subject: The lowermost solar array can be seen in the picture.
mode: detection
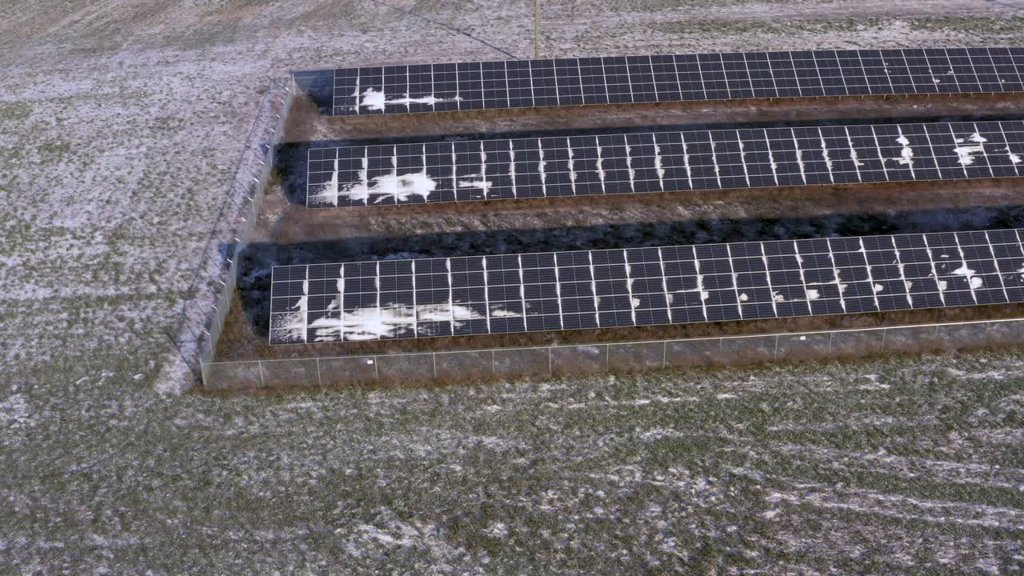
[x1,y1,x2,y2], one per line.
[268,229,1024,346]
